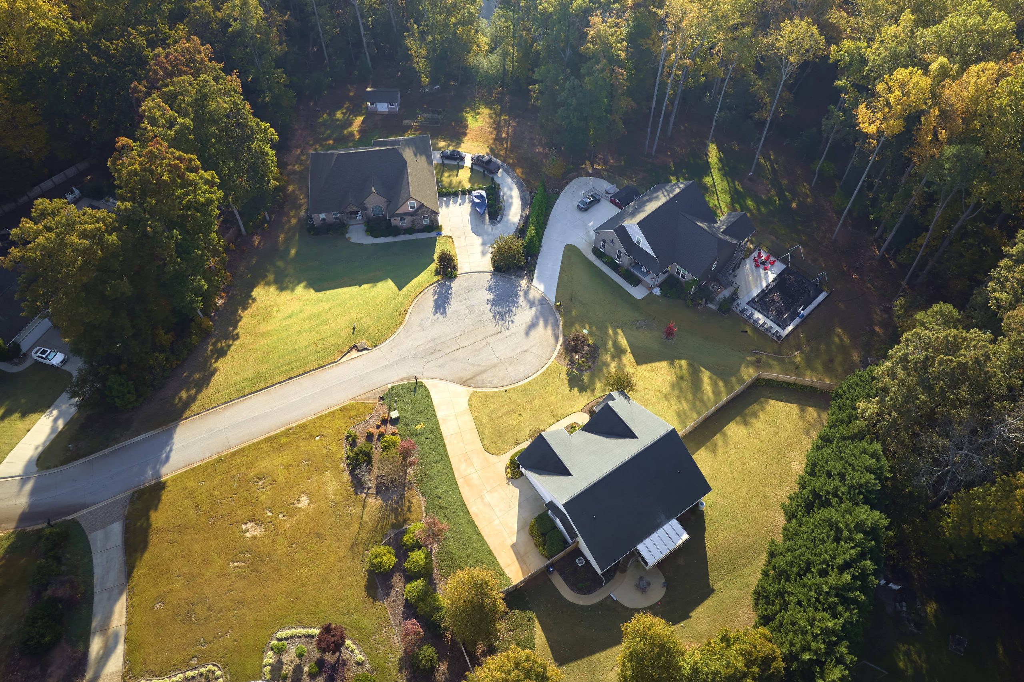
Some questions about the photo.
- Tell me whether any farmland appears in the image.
No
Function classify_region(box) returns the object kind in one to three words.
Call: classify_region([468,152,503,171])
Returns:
vehicle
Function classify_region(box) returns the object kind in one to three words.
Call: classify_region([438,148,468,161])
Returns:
vehicle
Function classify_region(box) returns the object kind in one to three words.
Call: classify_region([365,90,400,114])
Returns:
shed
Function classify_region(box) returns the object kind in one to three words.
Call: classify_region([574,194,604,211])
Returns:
car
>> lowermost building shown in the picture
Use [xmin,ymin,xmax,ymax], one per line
[513,389,711,595]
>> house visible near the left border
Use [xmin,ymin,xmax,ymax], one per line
[0,284,53,358]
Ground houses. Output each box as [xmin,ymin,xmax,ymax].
[306,134,439,227]
[513,389,711,595]
[0,284,53,358]
[593,179,758,291]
